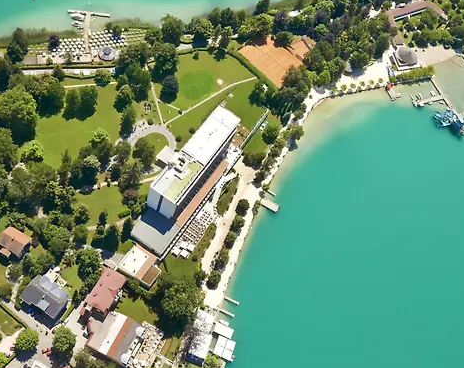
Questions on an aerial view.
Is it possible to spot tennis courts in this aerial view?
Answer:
Yes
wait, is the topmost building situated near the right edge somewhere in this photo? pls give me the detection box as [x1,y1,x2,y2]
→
[383,1,448,29]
